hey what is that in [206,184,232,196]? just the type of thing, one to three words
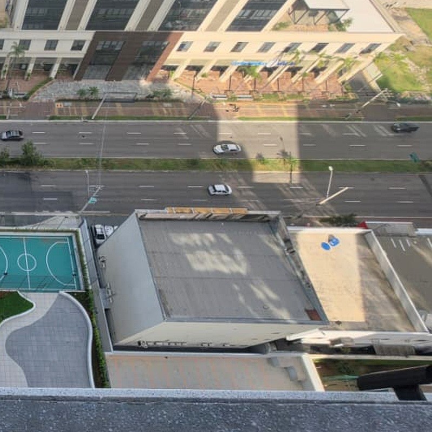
vehicle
